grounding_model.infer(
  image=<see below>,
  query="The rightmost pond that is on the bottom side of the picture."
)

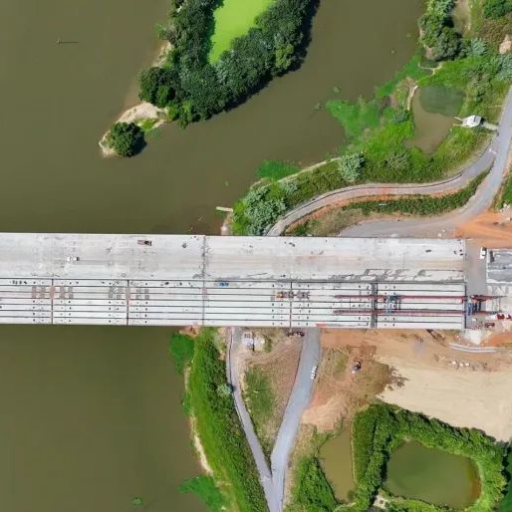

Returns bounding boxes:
[384,439,482,508]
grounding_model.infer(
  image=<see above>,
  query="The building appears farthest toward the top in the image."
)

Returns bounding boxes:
[457,112,483,130]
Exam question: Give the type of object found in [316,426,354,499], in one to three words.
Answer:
pond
